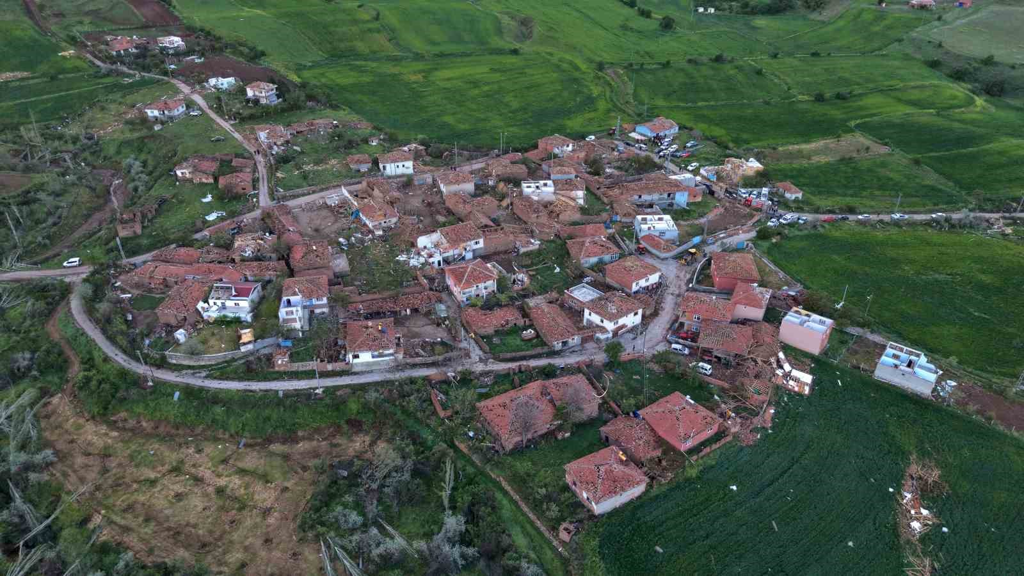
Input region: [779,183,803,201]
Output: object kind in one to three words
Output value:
house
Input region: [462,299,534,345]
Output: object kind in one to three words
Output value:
building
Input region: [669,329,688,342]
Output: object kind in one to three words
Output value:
vehicle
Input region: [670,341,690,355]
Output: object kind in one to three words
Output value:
vehicle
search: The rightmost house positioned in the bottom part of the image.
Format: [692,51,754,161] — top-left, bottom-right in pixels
[876,343,943,395]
